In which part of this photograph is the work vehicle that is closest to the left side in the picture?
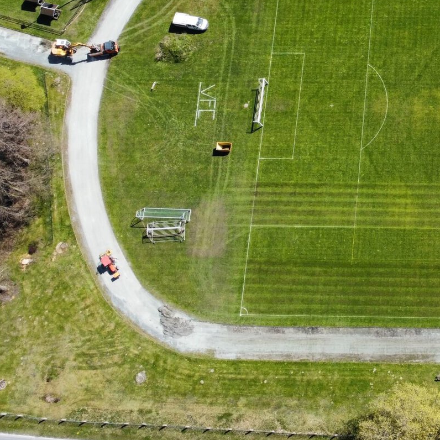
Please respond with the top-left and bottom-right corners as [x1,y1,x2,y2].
[50,40,92,59]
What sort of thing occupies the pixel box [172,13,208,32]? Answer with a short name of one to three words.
vehicle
